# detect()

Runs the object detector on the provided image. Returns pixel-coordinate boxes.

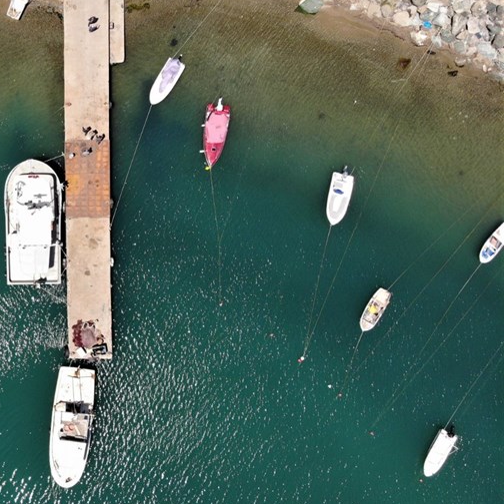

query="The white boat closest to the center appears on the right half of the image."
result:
[325,164,354,225]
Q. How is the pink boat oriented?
from top to bottom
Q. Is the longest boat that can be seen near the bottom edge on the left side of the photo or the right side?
left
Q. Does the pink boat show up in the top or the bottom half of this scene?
top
